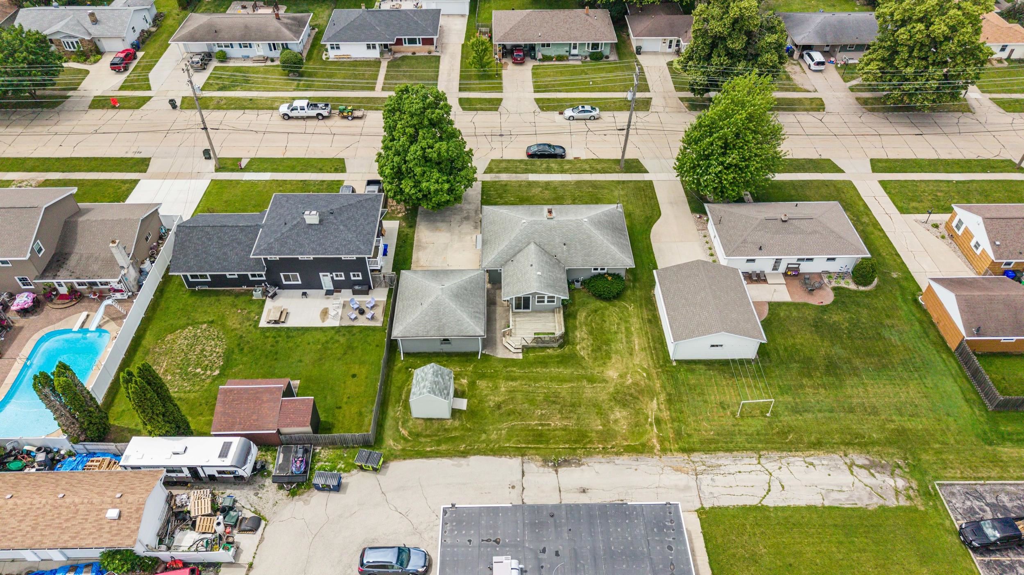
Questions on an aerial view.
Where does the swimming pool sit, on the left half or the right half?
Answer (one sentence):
The swimming pool is on the left side of the image.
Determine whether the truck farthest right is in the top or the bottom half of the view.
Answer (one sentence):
Seen from above, the truck farthest right lies in the bottom half of the view.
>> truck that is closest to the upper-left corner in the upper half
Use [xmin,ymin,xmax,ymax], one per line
[108,46,137,67]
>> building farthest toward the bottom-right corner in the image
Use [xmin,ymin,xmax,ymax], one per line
[920,277,1024,353]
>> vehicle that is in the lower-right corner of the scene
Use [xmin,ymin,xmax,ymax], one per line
[958,515,1024,558]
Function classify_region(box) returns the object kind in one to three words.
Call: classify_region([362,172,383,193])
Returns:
truck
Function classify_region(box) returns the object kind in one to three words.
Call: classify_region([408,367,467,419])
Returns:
shed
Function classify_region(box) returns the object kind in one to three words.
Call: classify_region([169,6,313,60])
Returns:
house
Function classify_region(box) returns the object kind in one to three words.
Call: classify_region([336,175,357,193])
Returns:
car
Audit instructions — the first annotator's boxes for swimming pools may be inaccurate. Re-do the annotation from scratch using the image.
[0,328,110,438]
